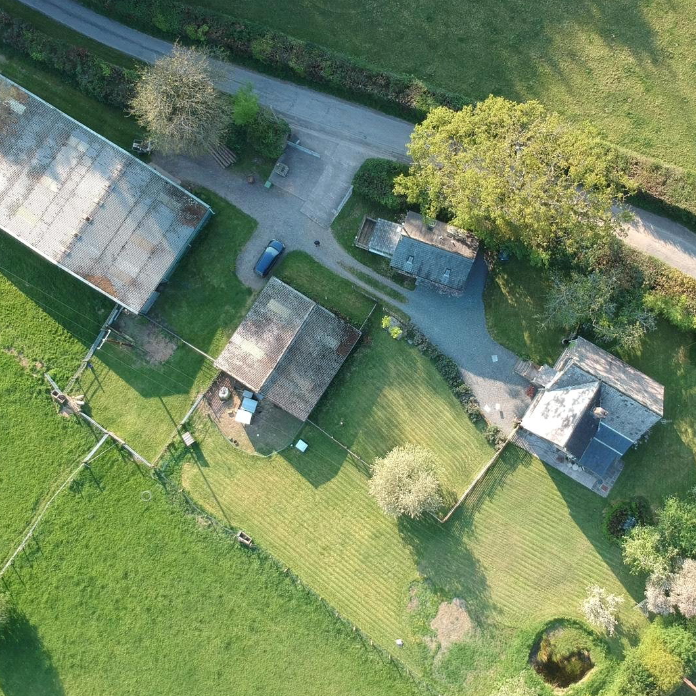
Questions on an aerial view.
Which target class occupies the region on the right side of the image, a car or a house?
house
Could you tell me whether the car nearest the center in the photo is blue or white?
blue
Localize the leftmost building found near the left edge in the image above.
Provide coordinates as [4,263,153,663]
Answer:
[0,73,221,315]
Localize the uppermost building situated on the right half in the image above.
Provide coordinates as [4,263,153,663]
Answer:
[365,210,480,292]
